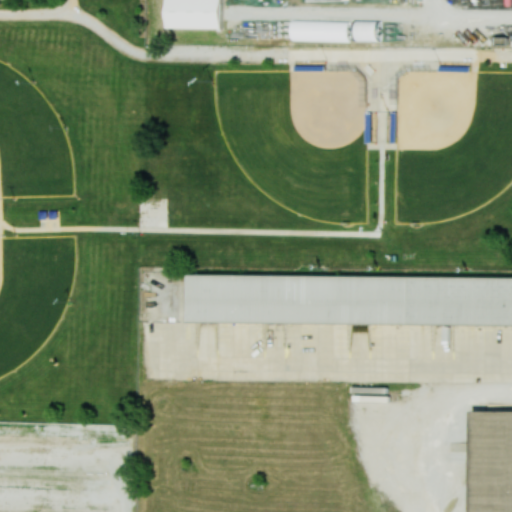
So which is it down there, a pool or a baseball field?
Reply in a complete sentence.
Looking from above, you can make out a baseball field.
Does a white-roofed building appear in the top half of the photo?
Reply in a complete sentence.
Yes, I can see a white-roofed building in the top half of the photo.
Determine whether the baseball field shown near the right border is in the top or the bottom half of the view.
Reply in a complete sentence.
It is in the top half that the baseball field shown near the right border appears.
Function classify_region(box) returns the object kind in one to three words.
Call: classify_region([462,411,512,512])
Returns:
building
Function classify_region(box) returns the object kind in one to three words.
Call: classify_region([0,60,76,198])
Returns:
baseball field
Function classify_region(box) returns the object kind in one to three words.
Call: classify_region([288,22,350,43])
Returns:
greenhouse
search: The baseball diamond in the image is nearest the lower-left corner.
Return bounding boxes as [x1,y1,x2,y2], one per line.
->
[0,236,78,380]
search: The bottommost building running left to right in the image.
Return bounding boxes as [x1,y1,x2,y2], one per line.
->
[184,272,512,322]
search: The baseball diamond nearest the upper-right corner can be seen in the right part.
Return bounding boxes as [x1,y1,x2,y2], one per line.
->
[396,71,512,225]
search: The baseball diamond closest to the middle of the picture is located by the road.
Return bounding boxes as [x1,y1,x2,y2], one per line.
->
[214,70,368,226]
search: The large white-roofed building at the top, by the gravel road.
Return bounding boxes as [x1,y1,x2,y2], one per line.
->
[162,0,223,31]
